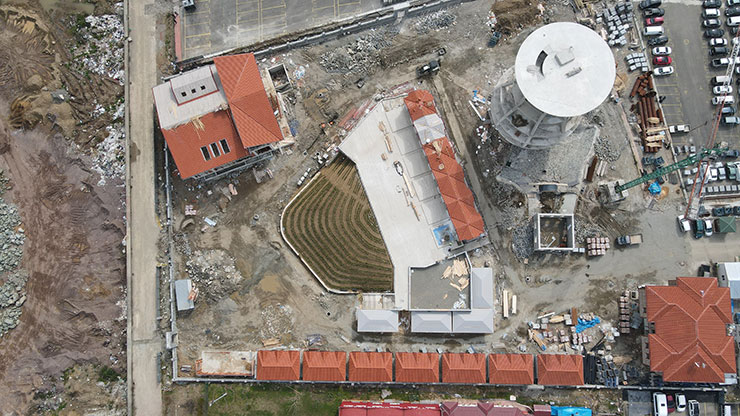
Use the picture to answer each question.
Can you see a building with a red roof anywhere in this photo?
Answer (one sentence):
Yes, there's a building with a red roof here.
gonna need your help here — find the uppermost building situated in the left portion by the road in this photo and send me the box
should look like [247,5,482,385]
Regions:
[152,53,291,185]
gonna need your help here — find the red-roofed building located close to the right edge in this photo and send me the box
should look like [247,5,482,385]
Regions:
[634,277,735,382]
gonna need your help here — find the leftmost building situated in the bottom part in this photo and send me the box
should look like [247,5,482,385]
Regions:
[175,280,197,310]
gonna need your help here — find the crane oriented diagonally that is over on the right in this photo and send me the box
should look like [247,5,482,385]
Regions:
[604,14,740,224]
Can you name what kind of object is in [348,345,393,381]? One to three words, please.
house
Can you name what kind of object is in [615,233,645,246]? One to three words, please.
vehicle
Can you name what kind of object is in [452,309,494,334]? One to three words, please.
house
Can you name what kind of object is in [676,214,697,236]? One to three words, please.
truck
